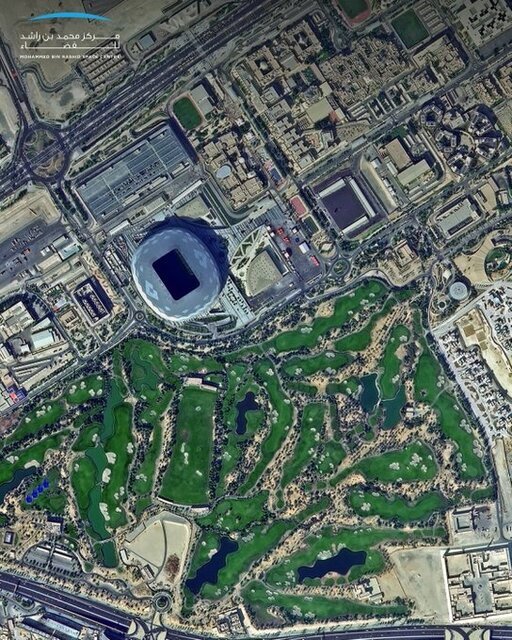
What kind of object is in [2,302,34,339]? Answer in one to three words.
building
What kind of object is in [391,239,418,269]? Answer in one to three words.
building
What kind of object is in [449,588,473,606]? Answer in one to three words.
house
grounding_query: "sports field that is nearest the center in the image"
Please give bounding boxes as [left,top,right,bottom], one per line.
[153,251,198,299]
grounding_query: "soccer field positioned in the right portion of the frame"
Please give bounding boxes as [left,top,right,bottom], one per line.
[389,7,431,51]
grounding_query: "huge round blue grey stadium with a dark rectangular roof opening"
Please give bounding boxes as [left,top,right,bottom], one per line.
[131,230,223,322]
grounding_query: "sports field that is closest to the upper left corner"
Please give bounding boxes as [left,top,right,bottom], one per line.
[168,90,207,135]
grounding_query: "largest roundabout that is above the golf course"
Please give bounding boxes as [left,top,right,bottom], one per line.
[19,127,66,180]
